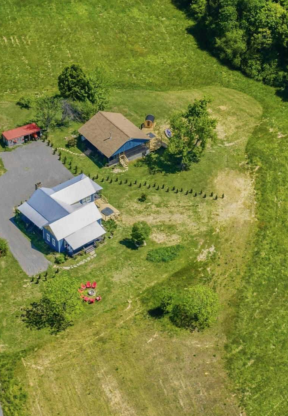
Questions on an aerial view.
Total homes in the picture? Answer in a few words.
2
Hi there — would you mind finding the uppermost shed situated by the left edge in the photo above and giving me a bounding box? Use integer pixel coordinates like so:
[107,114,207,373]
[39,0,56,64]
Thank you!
[2,122,41,147]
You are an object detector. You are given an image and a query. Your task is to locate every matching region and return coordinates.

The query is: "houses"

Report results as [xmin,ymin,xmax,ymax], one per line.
[19,173,126,256]
[78,112,152,166]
